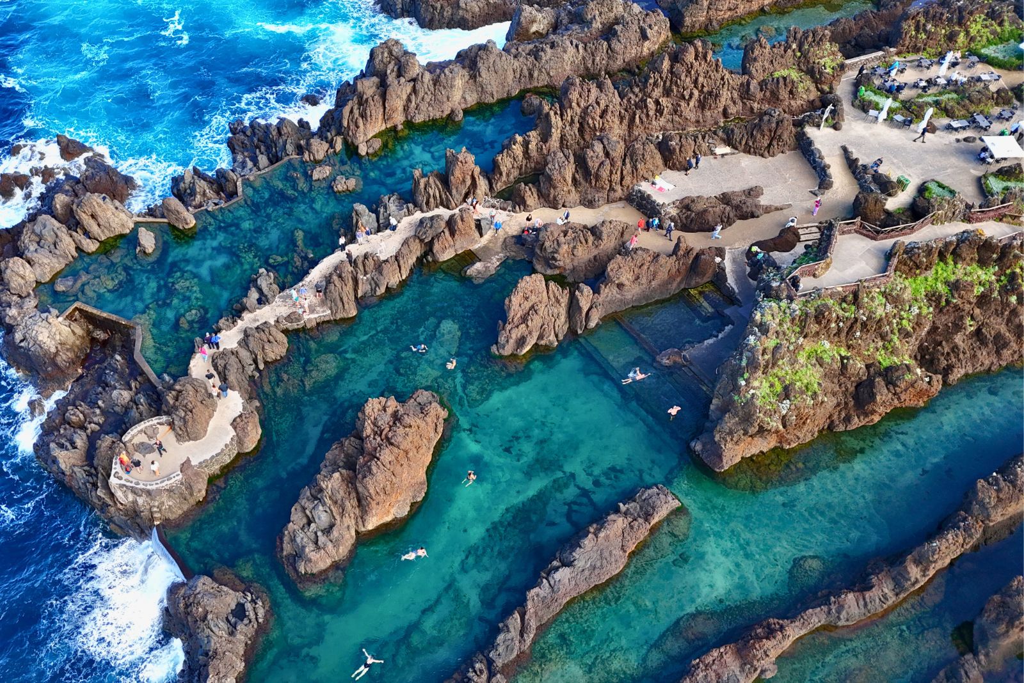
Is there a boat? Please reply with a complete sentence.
No, the picture doesn't show any boat.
